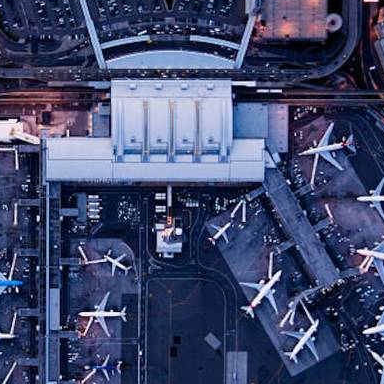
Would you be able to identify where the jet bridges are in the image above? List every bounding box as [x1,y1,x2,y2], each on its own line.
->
[10,311,18,335]
[4,360,18,384]
[359,255,370,274]
[231,200,245,219]
[8,251,18,281]
[77,245,86,264]
[311,153,319,190]
[84,257,108,265]
[0,148,19,171]
[280,308,295,328]
[364,257,374,275]
[290,309,297,326]
[300,300,316,324]
[79,369,97,384]
[79,316,94,338]
[325,203,335,225]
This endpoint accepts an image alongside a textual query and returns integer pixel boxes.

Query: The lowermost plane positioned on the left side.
[86,355,122,380]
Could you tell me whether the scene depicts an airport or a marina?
airport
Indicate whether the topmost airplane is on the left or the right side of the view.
right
